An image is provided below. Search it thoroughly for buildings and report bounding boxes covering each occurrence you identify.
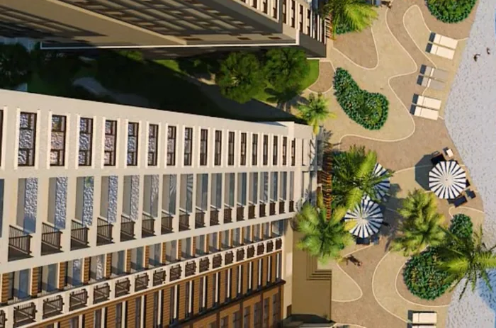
[0,0,328,55]
[0,90,323,328]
